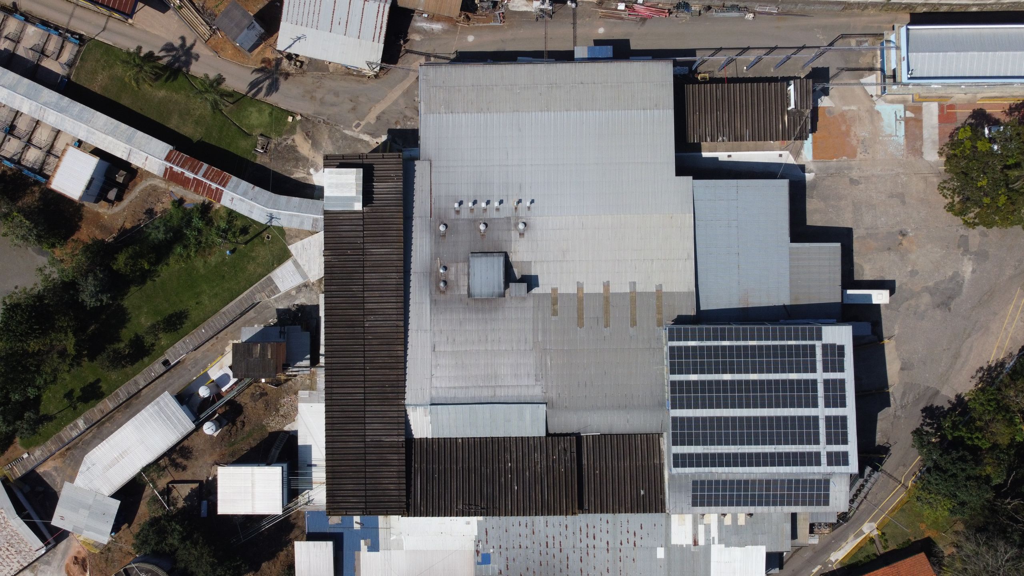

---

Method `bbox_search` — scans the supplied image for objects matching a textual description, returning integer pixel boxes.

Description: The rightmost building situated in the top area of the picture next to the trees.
[874,23,1024,100]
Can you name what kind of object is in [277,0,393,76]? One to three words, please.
building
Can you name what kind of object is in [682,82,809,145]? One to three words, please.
shed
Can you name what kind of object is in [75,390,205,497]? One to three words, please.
shed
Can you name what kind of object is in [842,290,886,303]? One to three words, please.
vehicle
